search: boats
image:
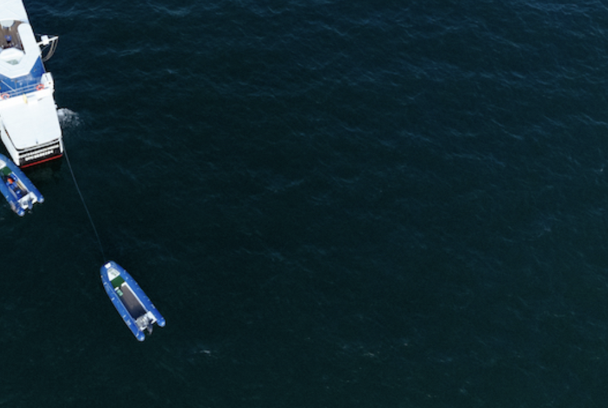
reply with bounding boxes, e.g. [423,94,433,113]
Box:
[0,0,66,168]
[99,260,163,340]
[0,154,44,216]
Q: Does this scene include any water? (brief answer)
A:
Yes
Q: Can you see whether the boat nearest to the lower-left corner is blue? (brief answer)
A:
Yes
